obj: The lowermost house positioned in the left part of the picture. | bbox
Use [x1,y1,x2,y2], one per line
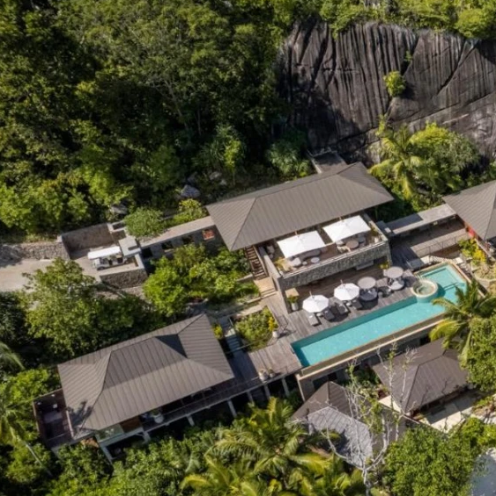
[59,312,301,465]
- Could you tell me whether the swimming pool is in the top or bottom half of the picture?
bottom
